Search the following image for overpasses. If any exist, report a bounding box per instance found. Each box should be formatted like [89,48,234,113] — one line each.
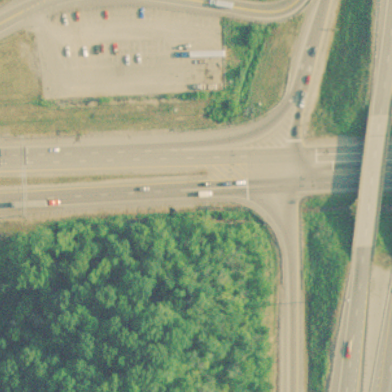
[352,115,392,248]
